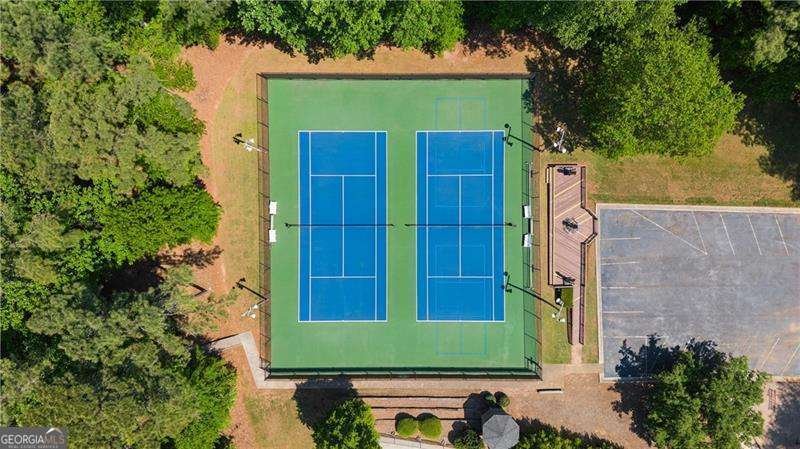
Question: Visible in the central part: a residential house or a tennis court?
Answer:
tennis court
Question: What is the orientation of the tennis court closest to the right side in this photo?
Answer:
up and down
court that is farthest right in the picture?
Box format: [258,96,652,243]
[409,97,515,355]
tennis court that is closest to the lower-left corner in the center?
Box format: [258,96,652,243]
[289,130,395,322]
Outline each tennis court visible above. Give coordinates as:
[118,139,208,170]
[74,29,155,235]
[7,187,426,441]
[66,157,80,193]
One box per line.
[289,130,395,322]
[409,97,515,355]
